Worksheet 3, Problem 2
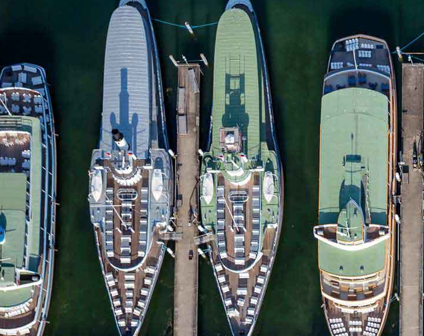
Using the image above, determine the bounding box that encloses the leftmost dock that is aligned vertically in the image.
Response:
[173,63,201,336]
